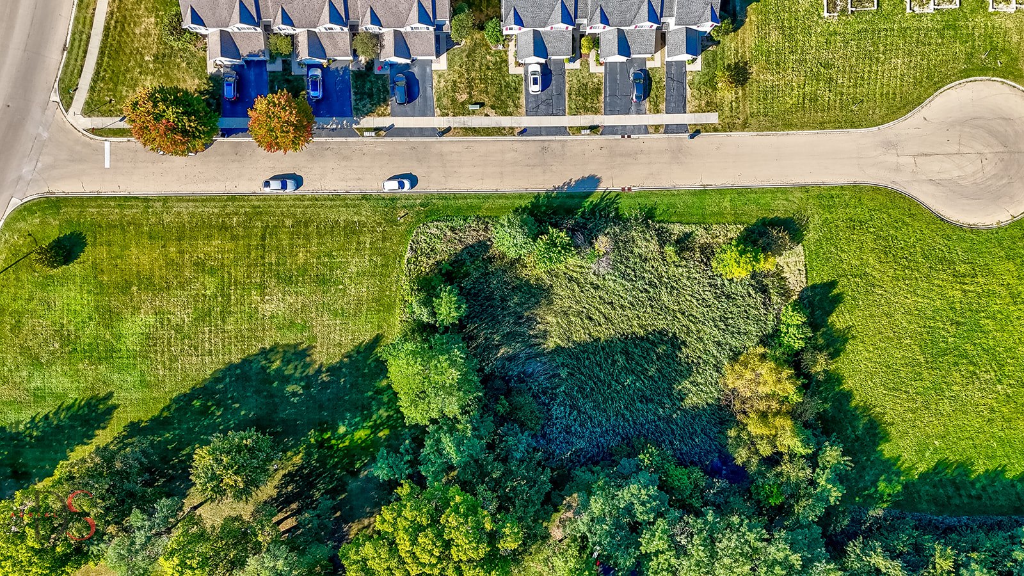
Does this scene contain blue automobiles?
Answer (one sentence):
Yes, a blue automobile appears in the view.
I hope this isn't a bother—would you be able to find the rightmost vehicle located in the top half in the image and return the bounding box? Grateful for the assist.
[630,70,646,104]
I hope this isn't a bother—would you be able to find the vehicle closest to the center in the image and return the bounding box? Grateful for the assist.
[383,177,411,192]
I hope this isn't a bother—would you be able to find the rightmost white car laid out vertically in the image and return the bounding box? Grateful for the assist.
[527,63,543,96]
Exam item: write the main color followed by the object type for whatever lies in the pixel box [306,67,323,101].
blue car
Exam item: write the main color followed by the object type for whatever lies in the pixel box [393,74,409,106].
blue car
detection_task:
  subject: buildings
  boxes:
[502,0,722,65]
[178,0,454,65]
